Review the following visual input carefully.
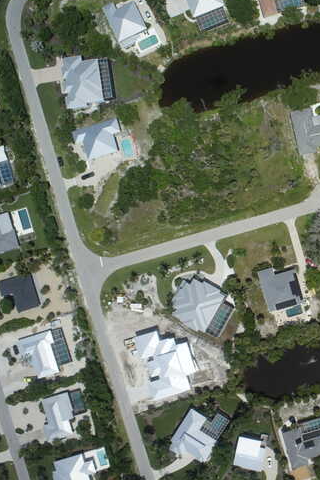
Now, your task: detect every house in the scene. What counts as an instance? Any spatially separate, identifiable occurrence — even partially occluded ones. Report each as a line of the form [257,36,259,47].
[173,279,236,336]
[0,212,36,253]
[19,326,75,378]
[0,146,17,186]
[43,388,88,442]
[290,108,320,156]
[188,0,229,33]
[170,407,231,462]
[103,1,148,50]
[282,418,320,471]
[54,451,100,480]
[62,56,118,108]
[0,274,43,312]
[234,432,266,471]
[72,118,122,159]
[136,328,200,401]
[258,268,303,311]
[259,0,303,18]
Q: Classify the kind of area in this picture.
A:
residential area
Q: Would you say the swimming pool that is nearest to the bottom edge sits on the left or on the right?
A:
left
